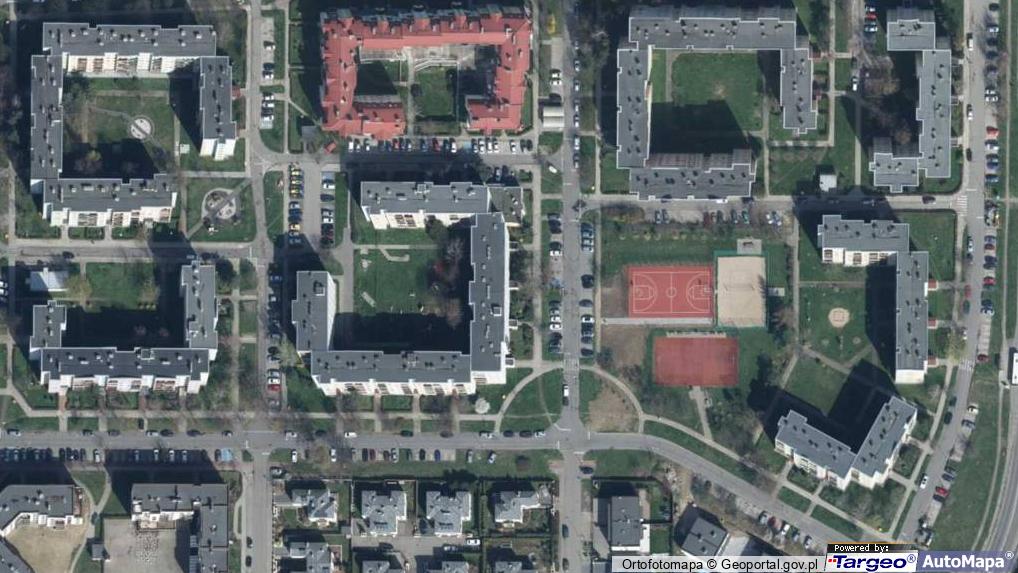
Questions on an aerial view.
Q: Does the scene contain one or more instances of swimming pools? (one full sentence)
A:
No, this view has no swimming pool in it.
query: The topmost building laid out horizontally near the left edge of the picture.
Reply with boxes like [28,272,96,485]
[43,23,220,75]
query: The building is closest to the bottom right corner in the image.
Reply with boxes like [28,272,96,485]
[851,396,917,488]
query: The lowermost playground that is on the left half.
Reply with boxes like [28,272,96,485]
[202,186,242,223]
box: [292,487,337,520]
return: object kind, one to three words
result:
house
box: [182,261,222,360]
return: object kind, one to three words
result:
building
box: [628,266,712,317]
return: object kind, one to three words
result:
basketball court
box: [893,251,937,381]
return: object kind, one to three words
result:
building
